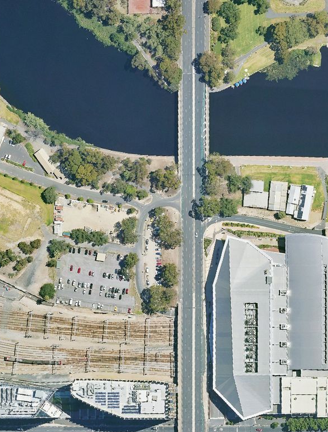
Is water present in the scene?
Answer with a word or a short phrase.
Yes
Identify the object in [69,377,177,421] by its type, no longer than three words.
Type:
building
